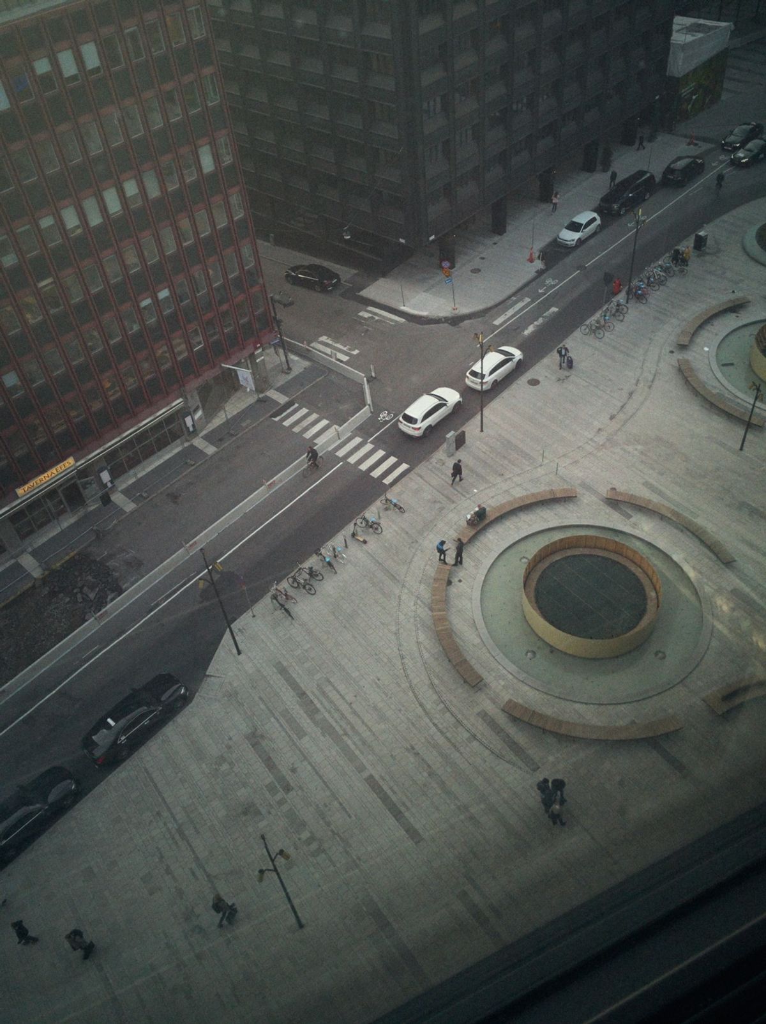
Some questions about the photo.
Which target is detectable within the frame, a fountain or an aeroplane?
fountain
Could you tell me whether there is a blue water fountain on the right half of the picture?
No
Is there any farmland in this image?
No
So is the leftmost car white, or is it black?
black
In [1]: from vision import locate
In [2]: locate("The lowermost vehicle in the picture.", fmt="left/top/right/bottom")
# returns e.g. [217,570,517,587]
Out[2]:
[0,762,79,858]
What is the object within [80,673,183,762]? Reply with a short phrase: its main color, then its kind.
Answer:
black car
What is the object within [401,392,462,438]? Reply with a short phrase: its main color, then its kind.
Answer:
white car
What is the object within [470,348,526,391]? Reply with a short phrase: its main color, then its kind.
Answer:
white car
